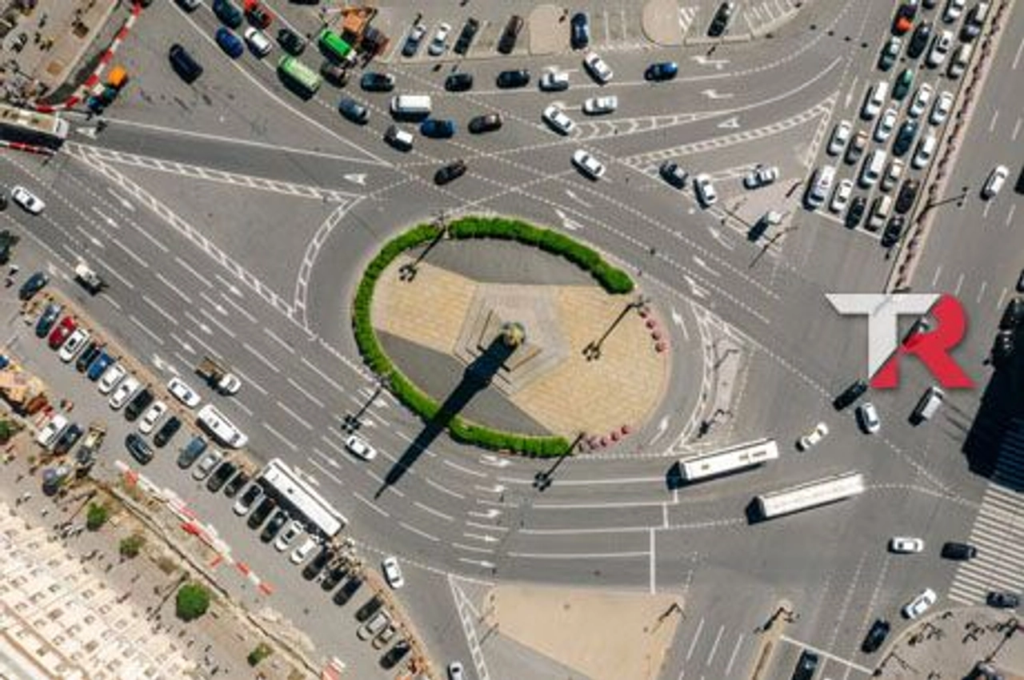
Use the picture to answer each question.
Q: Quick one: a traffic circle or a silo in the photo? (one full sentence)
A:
Visible in the photo is a traffic circle.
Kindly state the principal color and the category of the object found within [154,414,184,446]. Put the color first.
black car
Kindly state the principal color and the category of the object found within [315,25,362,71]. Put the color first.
green truck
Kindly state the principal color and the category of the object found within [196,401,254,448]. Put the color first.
white vehicle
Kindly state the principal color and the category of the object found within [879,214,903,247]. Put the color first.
black car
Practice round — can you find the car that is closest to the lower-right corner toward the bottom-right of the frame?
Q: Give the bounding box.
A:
[981,590,1019,607]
